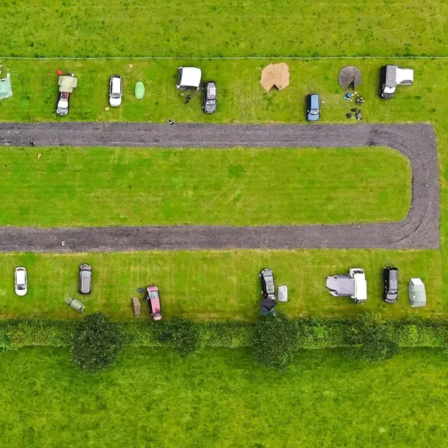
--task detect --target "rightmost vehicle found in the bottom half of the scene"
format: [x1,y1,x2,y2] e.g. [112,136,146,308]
[381,267,400,303]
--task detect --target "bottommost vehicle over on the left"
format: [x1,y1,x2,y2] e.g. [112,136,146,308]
[145,285,162,323]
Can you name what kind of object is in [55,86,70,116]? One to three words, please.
car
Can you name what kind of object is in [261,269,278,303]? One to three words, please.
car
